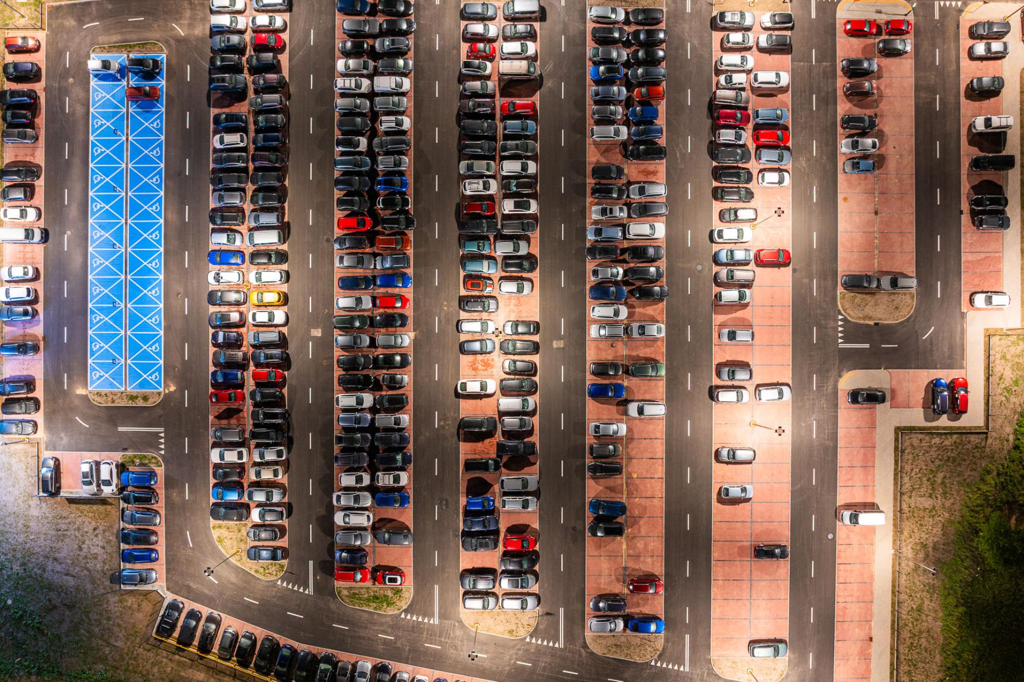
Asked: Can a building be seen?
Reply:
No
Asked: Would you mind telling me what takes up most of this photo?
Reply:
paved ground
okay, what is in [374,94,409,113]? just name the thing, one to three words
car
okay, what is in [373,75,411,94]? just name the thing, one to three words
vehicle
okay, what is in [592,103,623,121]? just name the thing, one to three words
car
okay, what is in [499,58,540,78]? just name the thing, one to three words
vehicle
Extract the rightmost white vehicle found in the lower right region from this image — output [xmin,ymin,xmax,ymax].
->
[839,508,888,527]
